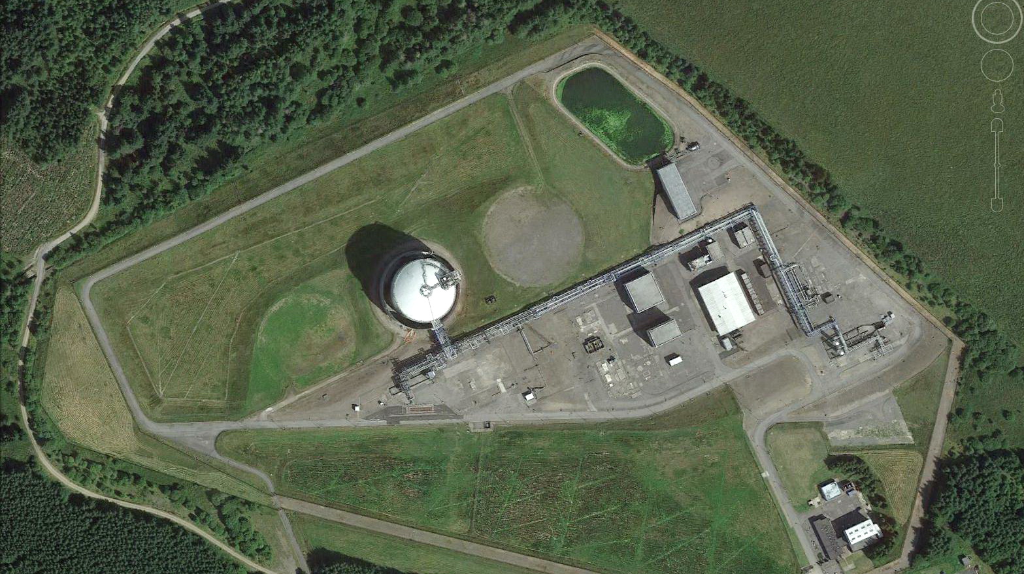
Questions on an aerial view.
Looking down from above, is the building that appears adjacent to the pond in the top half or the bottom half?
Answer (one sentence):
The top half of the photo is where the building that appears adjacent to the pond is.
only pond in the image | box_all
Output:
[556,67,674,163]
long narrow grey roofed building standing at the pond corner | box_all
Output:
[655,162,696,219]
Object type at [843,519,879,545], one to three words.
building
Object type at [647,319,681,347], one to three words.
house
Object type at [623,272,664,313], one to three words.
house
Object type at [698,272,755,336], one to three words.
building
